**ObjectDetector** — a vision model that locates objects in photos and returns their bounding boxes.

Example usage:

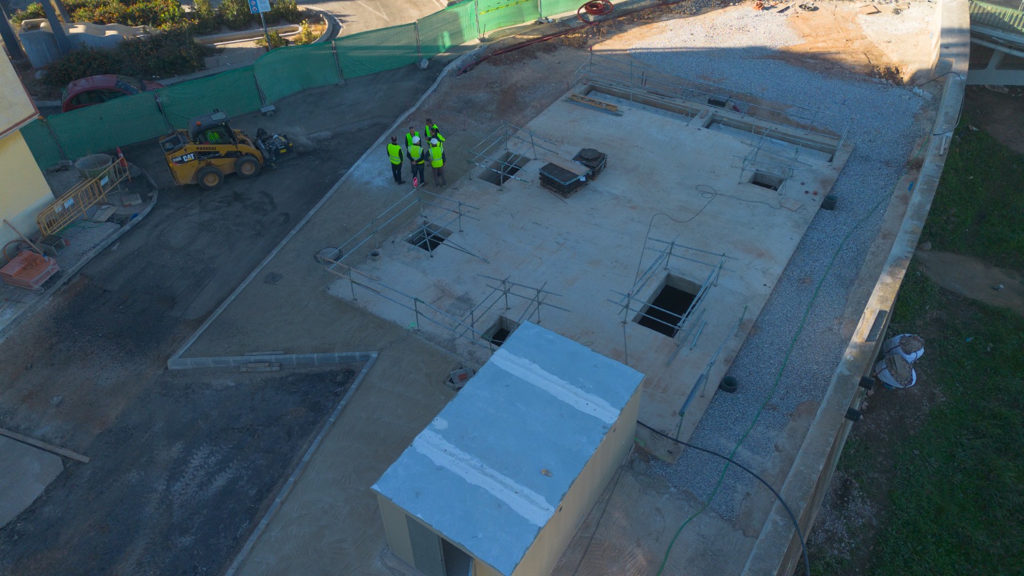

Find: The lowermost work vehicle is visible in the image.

[156,110,301,191]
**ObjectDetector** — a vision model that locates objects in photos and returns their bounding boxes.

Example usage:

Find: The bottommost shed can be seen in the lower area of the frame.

[373,321,646,576]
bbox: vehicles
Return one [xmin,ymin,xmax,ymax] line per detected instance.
[156,110,301,191]
[57,73,171,114]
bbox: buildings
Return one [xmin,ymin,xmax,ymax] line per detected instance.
[373,321,646,576]
[0,46,54,263]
